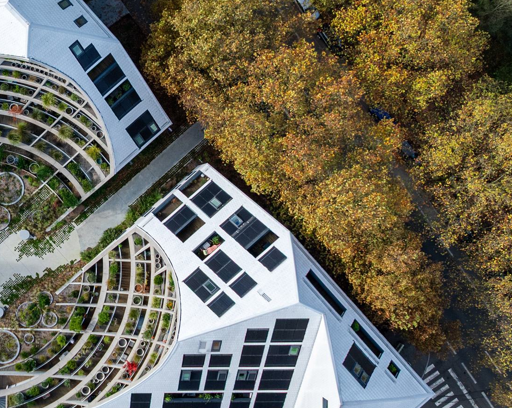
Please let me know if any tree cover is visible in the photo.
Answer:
Yes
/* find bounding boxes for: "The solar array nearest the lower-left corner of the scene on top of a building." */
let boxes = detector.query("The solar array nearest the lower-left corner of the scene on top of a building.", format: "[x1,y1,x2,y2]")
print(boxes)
[130,394,152,408]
